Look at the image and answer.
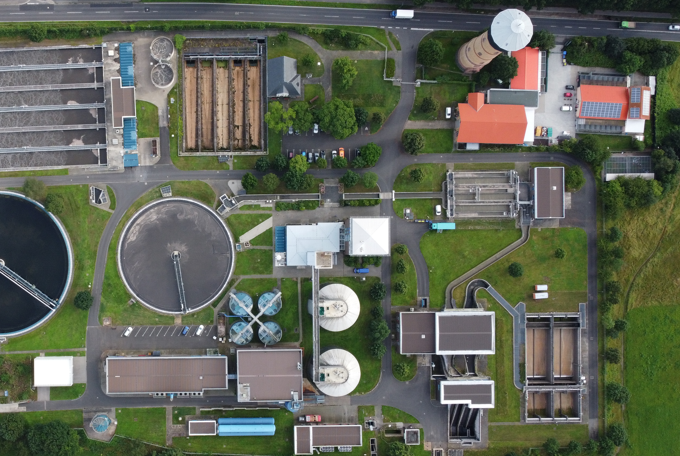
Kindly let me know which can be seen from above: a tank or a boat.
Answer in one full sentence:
Looking from above, you can make out a tank.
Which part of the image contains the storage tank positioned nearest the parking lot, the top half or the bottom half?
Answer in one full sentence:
It is in the top half that the storage tank positioned nearest the parking lot appears.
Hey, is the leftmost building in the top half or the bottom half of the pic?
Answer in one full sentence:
Seen from above, the leftmost building lies in the bottom half of the view.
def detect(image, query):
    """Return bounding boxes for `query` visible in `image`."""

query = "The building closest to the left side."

[35,357,75,385]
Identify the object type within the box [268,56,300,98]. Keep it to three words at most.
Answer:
house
